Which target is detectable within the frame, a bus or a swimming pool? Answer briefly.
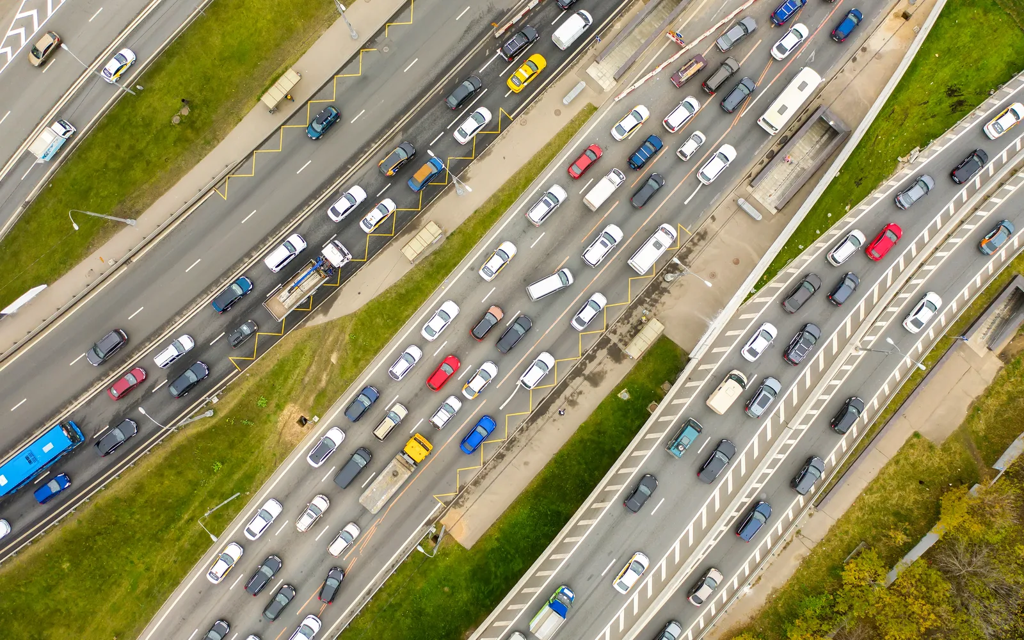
bus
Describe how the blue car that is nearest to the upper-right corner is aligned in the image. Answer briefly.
at an angle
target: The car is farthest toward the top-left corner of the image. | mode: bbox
[27,28,64,68]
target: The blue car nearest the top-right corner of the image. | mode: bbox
[830,8,864,45]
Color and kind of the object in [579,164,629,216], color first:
white truck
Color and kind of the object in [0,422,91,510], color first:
blue bus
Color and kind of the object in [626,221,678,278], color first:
white vehicle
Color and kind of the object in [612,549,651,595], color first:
white car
